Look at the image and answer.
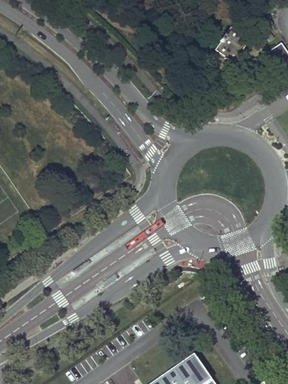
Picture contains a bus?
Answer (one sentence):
Yes, you can see a bus in this photo.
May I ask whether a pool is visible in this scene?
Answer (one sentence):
No, I can see no pool in this picture.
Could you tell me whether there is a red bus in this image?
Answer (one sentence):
Yes, this view includes a red bus.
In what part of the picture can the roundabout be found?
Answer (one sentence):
The roundabout sits in the right section of the image.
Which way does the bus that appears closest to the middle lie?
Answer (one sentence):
The bus that appears closest to the middle has been laid out on a diagonal relative to the frame.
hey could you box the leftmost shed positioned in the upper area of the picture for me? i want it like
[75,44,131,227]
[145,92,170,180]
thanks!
[216,28,246,60]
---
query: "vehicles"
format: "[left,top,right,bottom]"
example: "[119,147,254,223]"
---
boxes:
[125,219,166,250]
[108,343,117,354]
[144,319,154,329]
[37,31,46,40]
[117,336,126,346]
[72,368,81,378]
[208,248,218,253]
[178,247,190,254]
[133,326,143,336]
[66,372,76,382]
